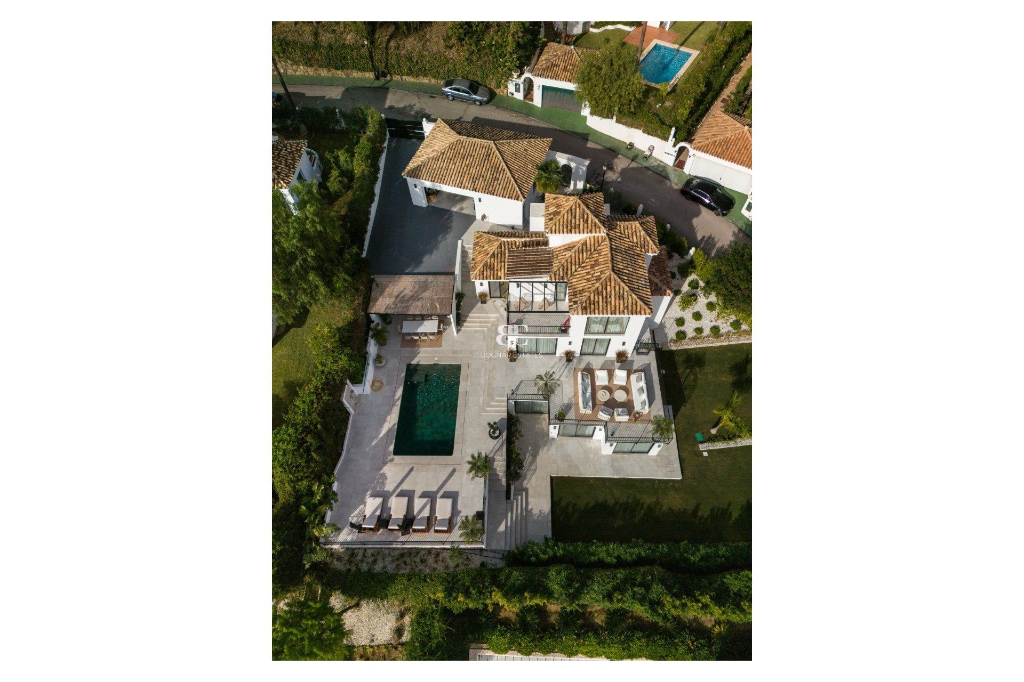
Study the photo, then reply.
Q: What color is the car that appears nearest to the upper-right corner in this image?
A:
black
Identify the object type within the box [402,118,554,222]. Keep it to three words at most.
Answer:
building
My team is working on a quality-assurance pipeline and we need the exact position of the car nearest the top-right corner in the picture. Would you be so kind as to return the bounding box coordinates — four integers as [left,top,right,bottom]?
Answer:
[677,176,739,216]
